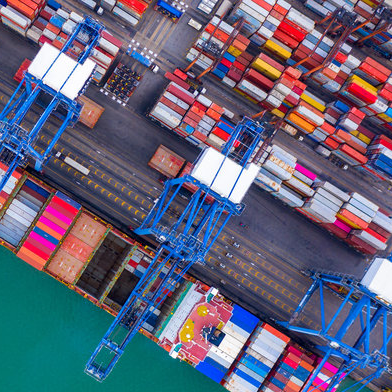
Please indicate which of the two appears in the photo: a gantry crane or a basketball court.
gantry crane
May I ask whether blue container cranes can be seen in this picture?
Yes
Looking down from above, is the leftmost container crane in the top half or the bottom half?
top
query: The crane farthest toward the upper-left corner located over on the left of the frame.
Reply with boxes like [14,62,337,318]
[0,12,105,190]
